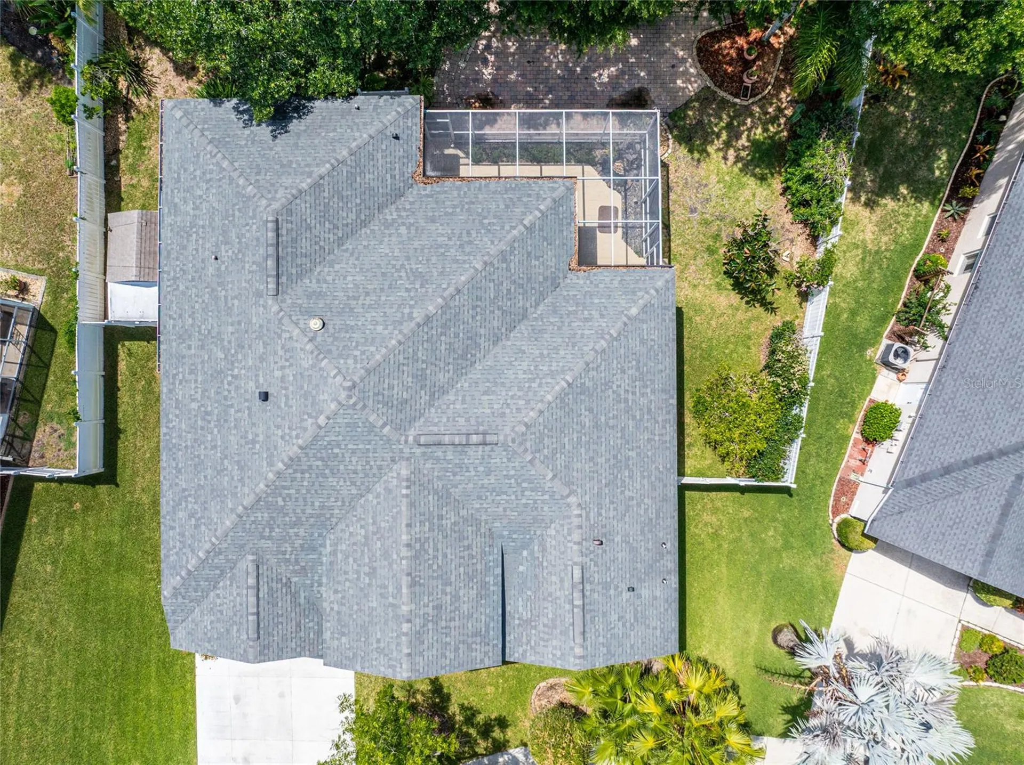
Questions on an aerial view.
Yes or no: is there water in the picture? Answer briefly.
No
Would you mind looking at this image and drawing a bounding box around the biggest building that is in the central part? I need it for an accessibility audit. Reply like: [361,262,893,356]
[158,96,677,681]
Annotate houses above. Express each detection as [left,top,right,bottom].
[848,86,1024,603]
[158,96,677,681]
